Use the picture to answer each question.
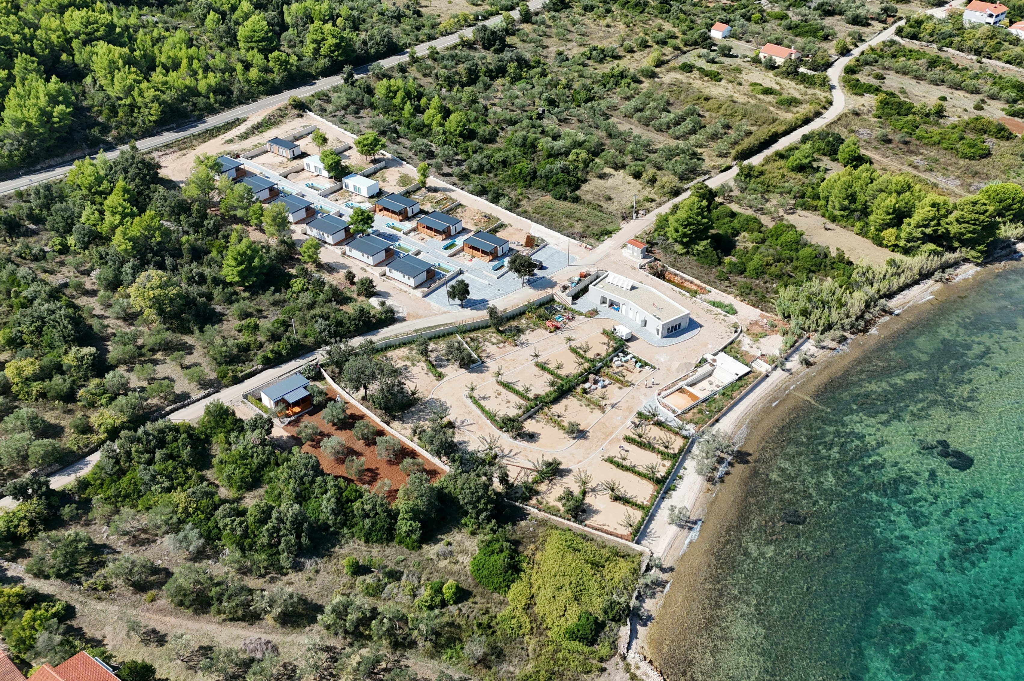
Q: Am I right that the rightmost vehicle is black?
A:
No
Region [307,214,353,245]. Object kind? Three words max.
building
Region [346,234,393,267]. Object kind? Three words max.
building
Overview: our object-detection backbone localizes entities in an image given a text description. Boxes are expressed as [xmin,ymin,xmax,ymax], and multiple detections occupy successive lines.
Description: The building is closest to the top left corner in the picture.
[209,156,245,181]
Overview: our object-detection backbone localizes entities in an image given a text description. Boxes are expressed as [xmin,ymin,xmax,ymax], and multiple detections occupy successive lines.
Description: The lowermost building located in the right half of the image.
[589,271,690,339]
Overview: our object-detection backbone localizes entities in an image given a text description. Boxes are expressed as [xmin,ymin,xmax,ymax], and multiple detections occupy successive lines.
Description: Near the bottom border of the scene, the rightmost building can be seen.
[59,649,128,681]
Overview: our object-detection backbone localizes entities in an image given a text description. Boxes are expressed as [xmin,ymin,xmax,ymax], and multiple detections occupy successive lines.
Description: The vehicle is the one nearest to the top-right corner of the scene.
[609,319,633,339]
